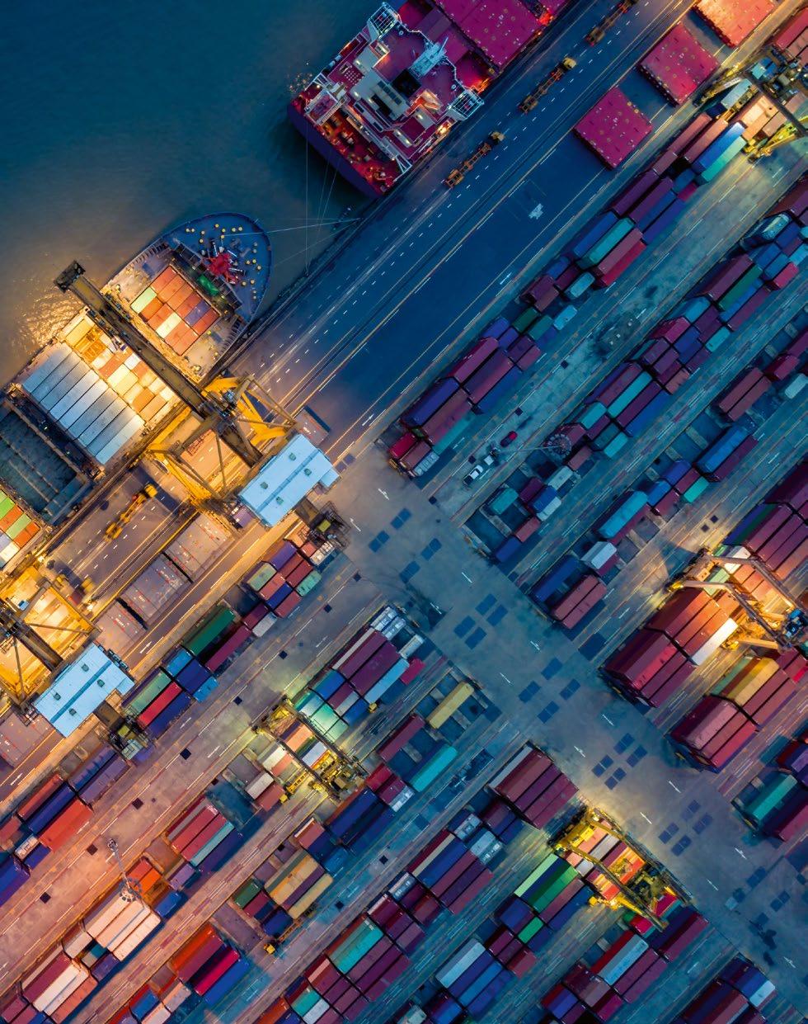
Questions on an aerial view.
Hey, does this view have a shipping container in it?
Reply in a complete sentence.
Yes, a shipping container is visible in the scene.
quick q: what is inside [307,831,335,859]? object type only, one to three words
shipping container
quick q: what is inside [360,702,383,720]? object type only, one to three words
vehicle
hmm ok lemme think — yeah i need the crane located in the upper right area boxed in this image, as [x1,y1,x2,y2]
[694,25,808,165]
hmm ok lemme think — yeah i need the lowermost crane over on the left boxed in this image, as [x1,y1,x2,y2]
[249,690,383,817]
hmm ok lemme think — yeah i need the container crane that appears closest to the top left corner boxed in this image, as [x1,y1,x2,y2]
[49,246,354,550]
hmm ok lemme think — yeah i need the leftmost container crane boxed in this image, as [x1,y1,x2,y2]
[0,555,151,757]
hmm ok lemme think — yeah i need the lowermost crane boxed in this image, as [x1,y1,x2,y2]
[546,801,707,942]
